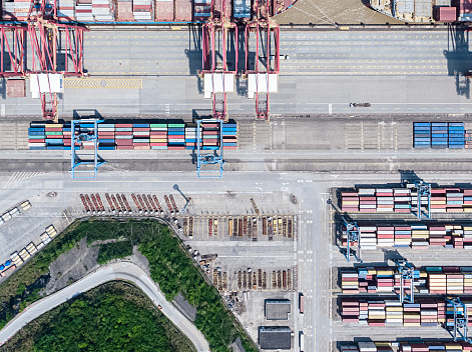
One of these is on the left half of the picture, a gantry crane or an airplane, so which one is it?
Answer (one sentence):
Looking on the left half of the picture, you will find a gantry crane.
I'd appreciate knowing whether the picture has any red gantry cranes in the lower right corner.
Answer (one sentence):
No, the scene shows no red gantry crane in the lower right corner.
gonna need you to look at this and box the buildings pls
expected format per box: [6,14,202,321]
[260,323,294,350]
[266,297,290,320]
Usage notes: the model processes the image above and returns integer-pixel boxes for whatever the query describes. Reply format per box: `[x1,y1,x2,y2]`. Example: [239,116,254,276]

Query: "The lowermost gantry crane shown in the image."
[439,293,467,341]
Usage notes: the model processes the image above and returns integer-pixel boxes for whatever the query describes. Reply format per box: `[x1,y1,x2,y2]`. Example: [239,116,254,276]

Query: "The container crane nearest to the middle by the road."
[197,117,226,178]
